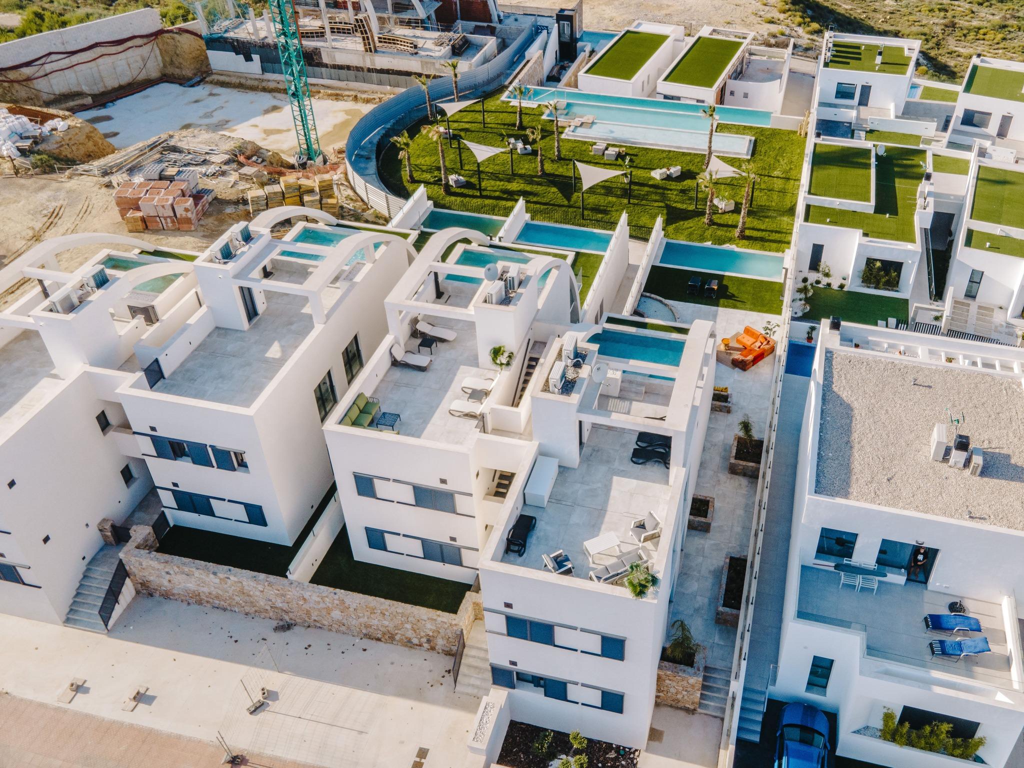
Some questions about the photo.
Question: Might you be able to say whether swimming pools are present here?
Yes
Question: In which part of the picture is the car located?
bottom right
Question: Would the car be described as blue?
Yes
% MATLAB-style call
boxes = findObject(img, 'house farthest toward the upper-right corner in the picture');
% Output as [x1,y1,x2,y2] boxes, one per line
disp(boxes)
[951,49,1024,147]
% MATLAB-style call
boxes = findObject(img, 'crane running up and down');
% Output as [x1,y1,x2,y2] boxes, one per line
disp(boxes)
[265,0,325,157]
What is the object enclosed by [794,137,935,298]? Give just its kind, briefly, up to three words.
house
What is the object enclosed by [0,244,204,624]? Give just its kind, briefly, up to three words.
house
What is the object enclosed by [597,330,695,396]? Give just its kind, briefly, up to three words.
swimming pool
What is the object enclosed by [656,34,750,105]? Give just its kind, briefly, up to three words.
building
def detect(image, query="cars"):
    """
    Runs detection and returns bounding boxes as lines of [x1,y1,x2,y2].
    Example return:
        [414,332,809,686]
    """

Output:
[773,710,837,768]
